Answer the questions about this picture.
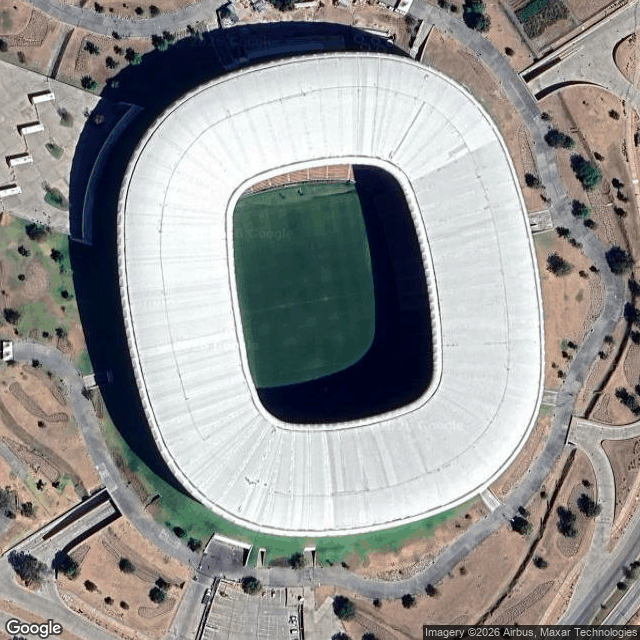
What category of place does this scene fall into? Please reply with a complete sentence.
What you see here is a sports ground.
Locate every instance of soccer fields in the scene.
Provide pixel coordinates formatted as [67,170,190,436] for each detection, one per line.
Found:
[235,191,384,412]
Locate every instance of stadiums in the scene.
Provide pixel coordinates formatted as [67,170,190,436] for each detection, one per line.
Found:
[116,51,545,537]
